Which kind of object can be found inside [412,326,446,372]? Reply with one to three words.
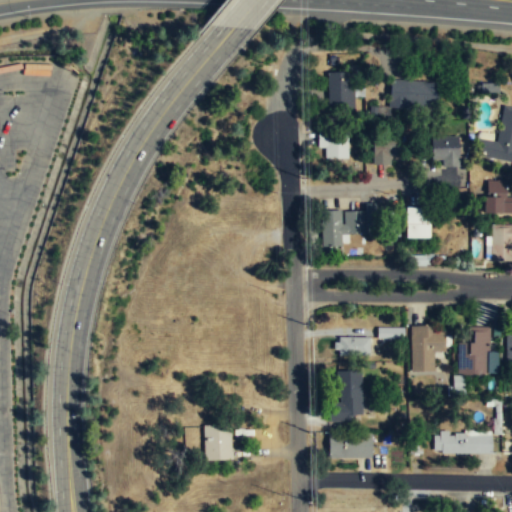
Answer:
house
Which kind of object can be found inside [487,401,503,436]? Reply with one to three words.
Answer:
shed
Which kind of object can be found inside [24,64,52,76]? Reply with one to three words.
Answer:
shed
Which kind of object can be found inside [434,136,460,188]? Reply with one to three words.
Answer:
house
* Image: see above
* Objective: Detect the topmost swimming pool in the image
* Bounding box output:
[478,102,492,132]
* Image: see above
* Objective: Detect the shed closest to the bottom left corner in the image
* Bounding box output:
[184,427,201,448]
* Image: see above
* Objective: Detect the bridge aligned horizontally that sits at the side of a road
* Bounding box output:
[210,0,288,31]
